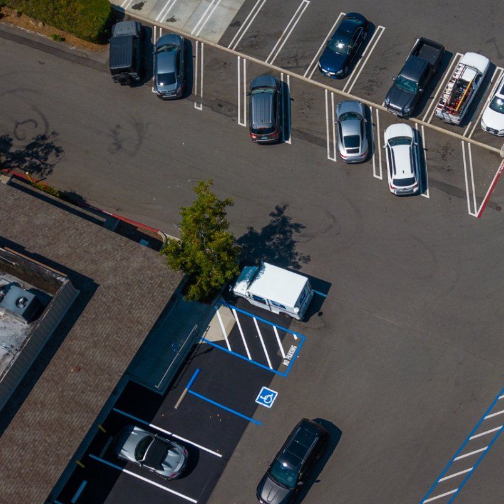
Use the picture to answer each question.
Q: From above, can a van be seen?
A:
Yes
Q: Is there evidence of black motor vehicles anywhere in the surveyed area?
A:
Yes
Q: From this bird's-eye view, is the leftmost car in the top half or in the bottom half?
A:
top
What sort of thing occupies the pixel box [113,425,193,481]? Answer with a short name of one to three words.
car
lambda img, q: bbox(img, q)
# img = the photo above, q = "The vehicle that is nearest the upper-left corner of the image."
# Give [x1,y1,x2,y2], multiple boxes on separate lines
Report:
[107,21,145,87]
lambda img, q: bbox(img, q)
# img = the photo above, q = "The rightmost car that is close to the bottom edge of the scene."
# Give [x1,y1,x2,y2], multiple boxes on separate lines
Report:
[261,417,327,504]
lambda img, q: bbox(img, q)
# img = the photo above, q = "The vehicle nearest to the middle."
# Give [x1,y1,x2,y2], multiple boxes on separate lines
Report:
[230,262,314,321]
